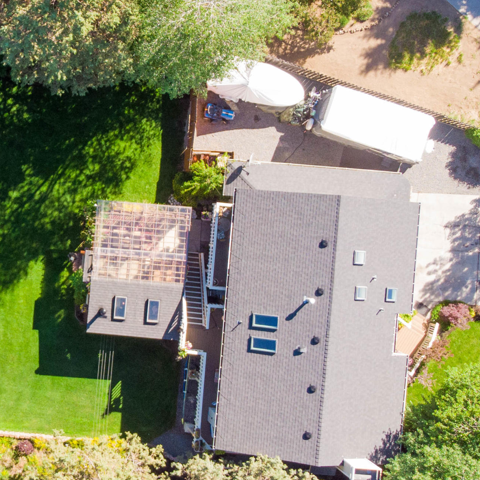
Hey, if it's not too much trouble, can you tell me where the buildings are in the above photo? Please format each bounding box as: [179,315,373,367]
[80,200,193,340]
[210,156,422,475]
